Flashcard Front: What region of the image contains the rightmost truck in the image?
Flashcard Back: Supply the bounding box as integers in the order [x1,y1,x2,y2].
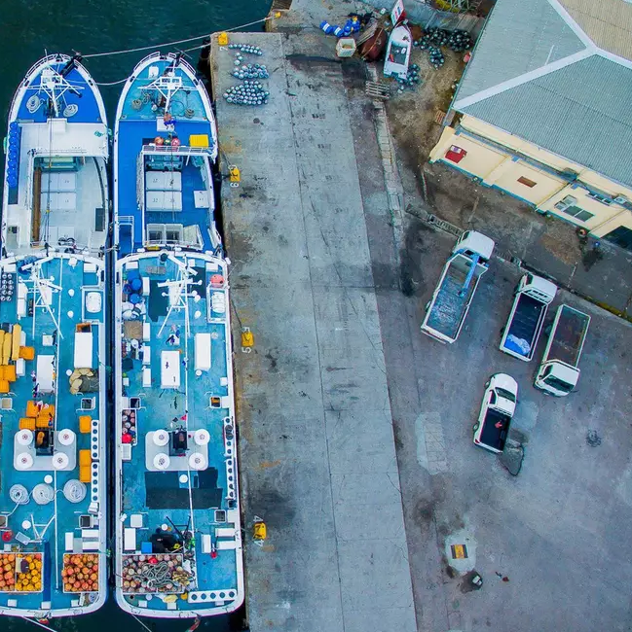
[529,307,590,403]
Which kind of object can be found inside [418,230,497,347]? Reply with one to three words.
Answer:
truck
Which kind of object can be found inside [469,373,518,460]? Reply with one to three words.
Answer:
truck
